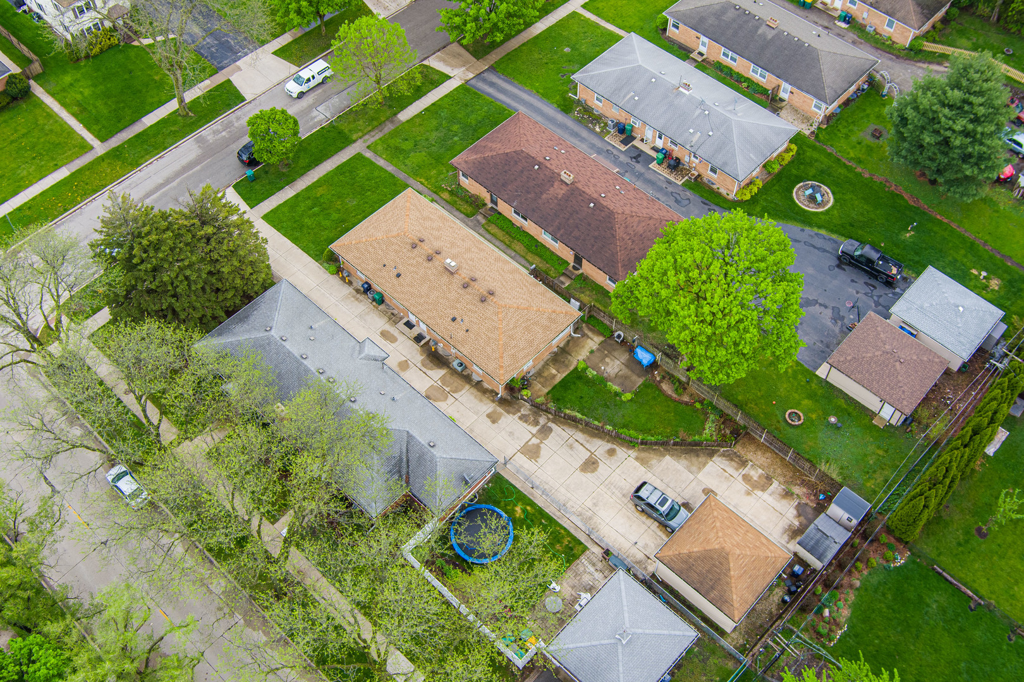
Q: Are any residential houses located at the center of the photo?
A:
Yes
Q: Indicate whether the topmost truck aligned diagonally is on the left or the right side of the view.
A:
left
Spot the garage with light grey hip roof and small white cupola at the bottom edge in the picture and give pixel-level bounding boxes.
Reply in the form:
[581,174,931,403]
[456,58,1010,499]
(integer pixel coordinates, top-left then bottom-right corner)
[544,565,702,682]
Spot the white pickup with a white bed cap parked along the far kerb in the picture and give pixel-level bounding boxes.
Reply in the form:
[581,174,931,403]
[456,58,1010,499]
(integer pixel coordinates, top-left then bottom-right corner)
[280,57,335,99]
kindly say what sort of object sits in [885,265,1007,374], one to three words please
building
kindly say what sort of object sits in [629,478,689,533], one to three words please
car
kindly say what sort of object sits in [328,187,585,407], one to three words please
house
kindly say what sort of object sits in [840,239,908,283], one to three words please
truck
